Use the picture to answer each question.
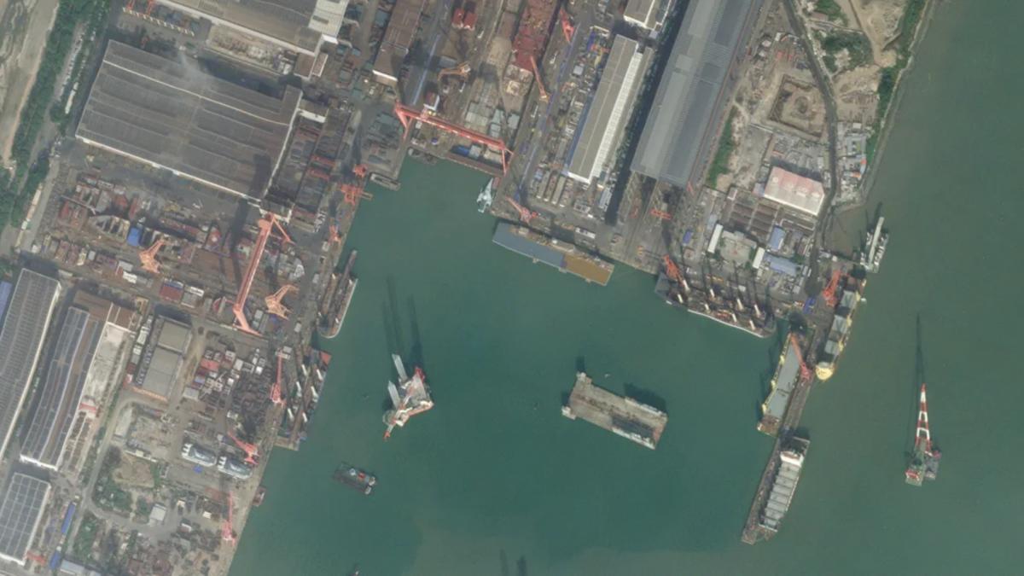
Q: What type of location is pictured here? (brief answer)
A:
port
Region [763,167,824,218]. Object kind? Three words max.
building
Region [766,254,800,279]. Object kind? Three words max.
shed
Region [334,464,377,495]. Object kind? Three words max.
ship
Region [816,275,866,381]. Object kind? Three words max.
ship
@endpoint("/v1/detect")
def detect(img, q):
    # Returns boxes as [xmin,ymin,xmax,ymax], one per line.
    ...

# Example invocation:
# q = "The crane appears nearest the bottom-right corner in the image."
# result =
[905,385,939,486]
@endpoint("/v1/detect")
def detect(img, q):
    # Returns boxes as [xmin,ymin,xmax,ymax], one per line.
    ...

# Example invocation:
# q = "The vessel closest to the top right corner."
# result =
[859,216,889,273]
